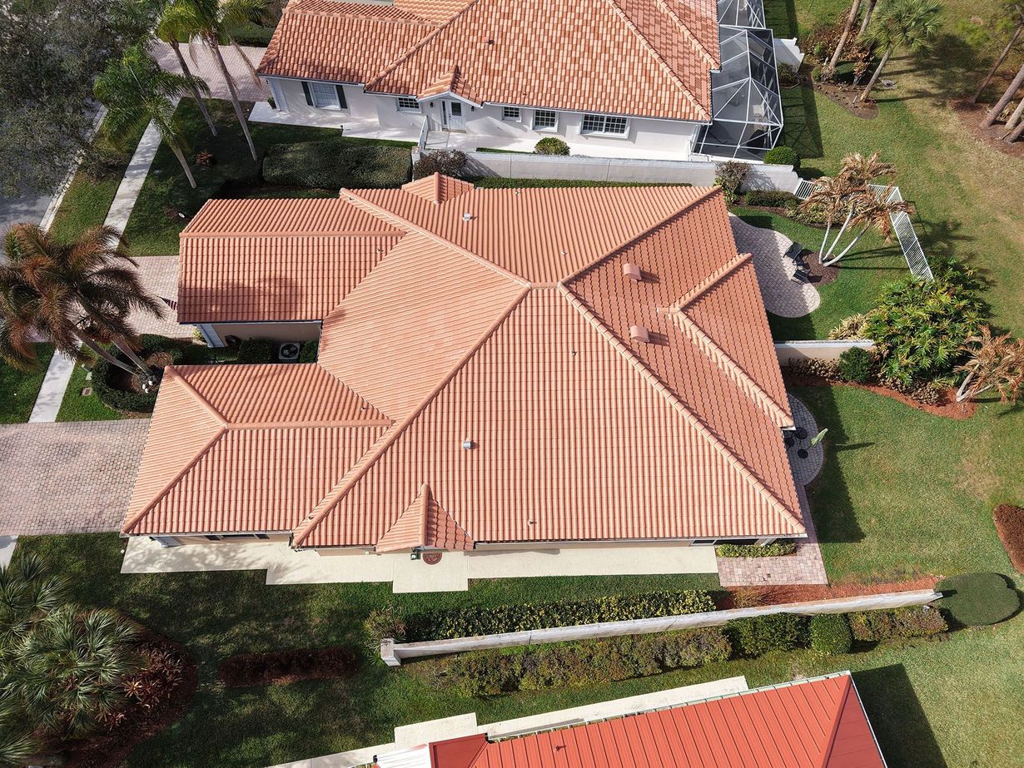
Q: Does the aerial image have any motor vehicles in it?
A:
No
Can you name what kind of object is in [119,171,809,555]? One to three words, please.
house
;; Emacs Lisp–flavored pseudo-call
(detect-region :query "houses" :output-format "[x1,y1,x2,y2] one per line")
[254,0,723,153]
[119,171,809,555]
[330,671,887,768]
